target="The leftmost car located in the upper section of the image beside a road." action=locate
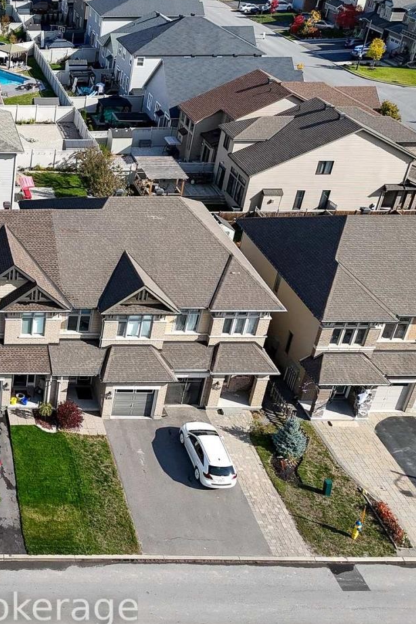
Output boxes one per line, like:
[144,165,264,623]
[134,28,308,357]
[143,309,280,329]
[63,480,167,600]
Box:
[238,0,263,13]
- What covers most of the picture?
buildings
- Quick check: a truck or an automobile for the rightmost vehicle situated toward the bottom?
automobile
